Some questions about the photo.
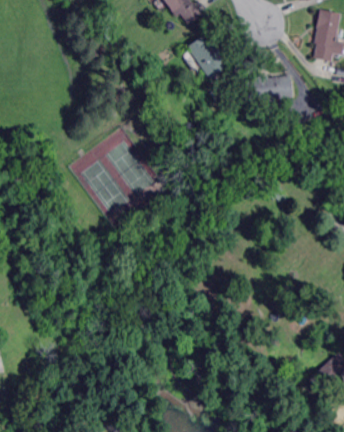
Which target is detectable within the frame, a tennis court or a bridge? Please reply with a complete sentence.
I can see a tennis court in this picture.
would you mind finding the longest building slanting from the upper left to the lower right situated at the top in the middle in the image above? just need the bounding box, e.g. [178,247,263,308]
[189,38,222,76]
